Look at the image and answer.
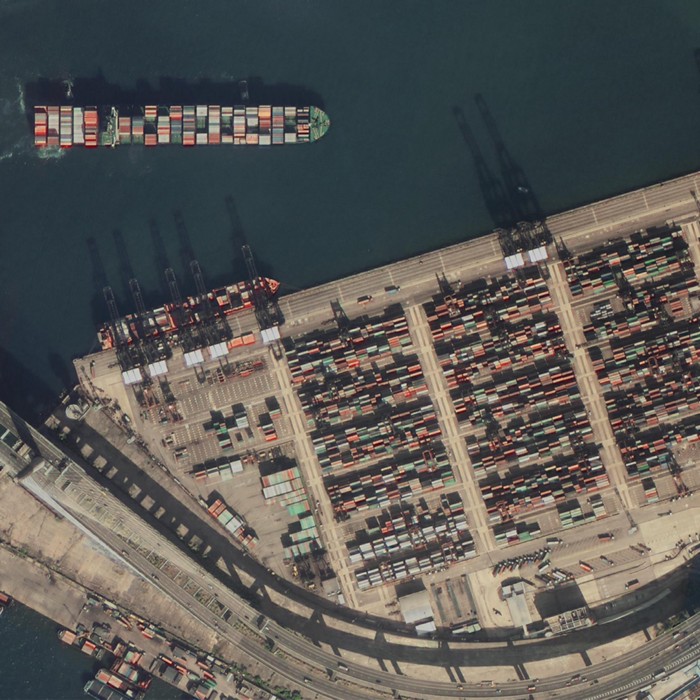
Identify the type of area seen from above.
port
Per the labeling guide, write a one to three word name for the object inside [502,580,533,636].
building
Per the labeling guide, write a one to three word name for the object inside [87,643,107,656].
ship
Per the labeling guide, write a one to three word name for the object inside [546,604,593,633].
building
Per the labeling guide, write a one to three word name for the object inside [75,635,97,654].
ship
